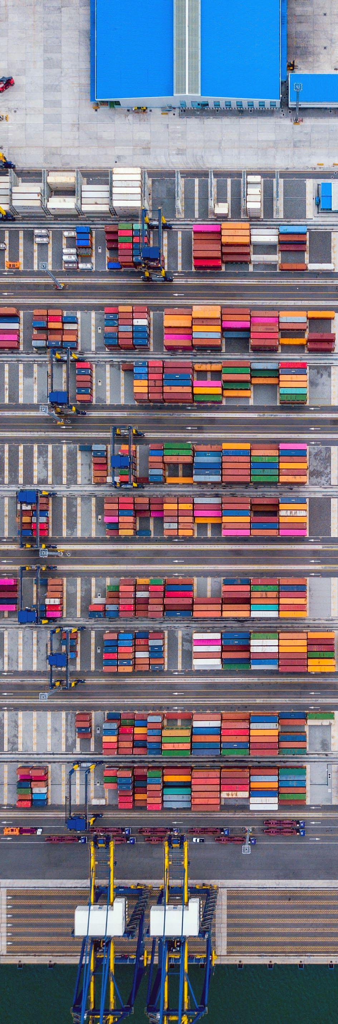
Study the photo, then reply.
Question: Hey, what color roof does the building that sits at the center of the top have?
blue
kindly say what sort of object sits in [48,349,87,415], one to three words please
container crane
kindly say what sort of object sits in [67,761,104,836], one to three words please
container crane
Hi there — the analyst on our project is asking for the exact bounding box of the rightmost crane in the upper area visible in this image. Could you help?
[139,210,174,282]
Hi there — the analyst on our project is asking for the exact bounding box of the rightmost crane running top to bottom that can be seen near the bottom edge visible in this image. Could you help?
[143,827,225,1024]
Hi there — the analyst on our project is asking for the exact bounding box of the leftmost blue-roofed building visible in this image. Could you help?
[90,0,287,109]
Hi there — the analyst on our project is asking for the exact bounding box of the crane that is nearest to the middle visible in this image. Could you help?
[110,425,146,490]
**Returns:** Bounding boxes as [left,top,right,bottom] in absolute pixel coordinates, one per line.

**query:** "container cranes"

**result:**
[67,761,104,836]
[110,425,146,490]
[18,564,57,629]
[143,827,225,1024]
[68,827,158,1024]
[48,626,86,688]
[48,349,87,415]
[18,488,57,549]
[139,210,174,282]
